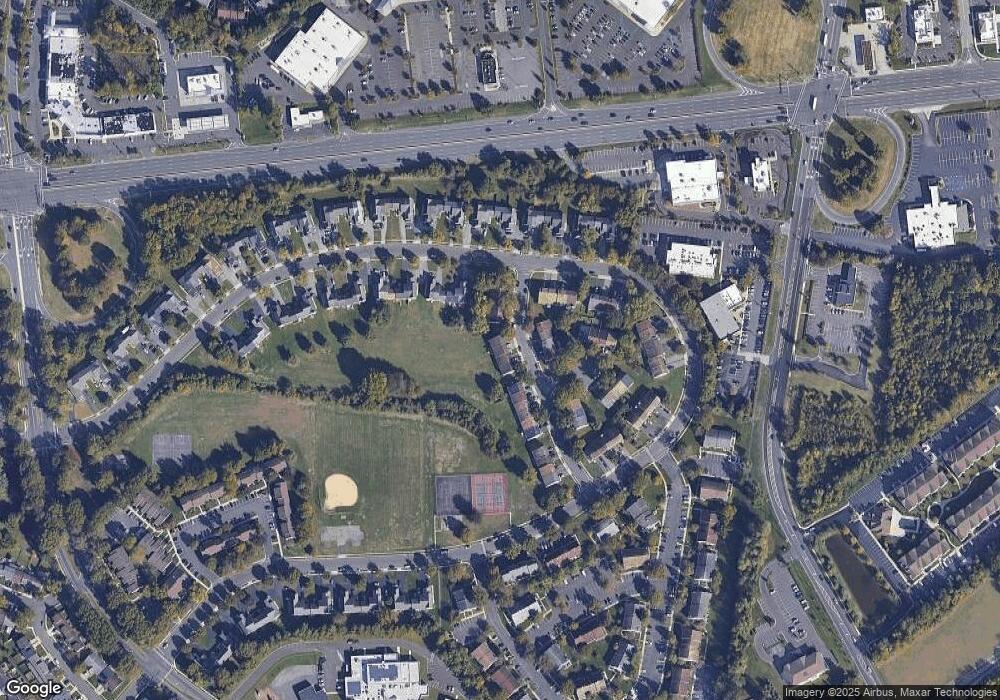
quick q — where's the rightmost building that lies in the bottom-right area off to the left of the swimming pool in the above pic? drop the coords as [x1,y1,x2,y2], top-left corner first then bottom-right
[877,509,897,537]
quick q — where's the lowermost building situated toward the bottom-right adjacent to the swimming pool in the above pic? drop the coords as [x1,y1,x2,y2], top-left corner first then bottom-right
[891,529,955,586]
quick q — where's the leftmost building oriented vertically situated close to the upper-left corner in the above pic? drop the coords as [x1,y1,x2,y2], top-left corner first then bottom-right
[44,27,102,139]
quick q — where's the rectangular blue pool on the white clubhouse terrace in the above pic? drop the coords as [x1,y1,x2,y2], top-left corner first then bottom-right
[897,512,920,535]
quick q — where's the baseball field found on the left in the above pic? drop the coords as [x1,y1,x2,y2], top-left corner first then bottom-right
[319,474,357,517]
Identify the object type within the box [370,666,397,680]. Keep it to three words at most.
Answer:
solar panel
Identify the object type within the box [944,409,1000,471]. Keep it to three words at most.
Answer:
building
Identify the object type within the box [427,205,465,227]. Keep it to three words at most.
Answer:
house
